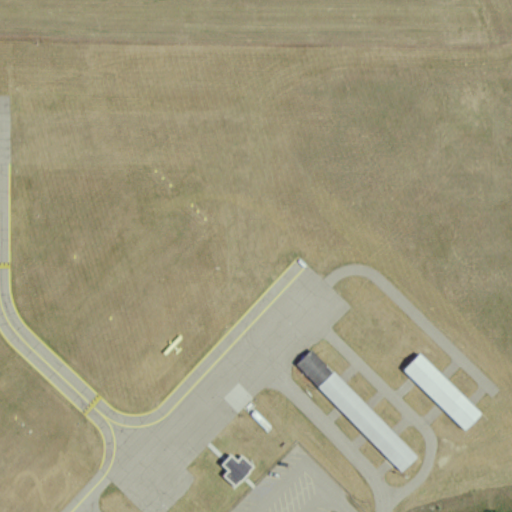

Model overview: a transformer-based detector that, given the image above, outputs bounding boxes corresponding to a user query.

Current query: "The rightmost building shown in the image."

[404,354,482,432]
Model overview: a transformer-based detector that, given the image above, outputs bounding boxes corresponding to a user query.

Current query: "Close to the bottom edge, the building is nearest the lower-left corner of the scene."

[222,456,254,488]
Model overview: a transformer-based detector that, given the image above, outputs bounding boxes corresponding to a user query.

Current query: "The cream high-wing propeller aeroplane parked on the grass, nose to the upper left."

[164,336,182,354]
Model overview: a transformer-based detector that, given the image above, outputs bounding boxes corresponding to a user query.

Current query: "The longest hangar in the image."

[297,351,418,472]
